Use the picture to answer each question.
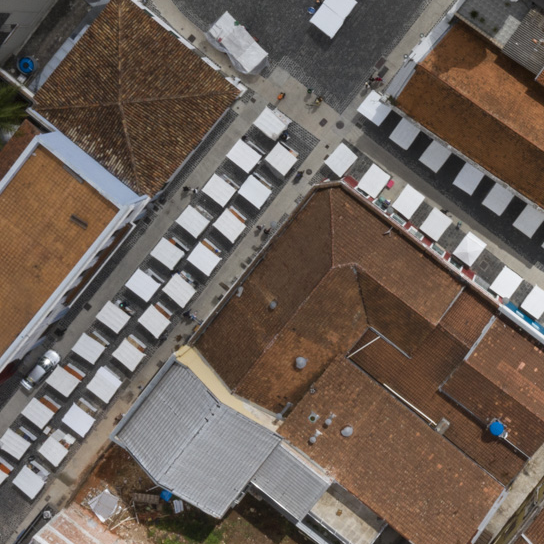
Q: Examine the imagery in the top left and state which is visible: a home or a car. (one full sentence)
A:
The feature located in the top left is a home.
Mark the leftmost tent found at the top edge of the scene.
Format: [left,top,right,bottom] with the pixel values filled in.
[208,12,269,73]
